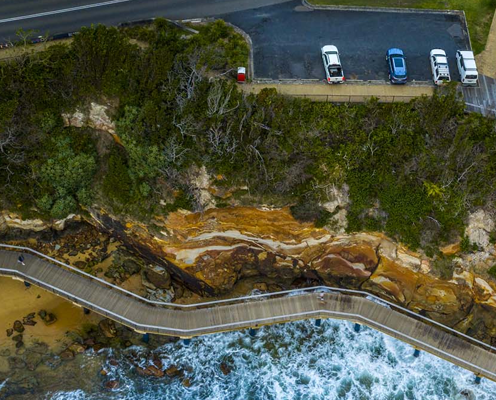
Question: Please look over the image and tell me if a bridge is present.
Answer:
No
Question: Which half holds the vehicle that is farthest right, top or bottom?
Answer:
top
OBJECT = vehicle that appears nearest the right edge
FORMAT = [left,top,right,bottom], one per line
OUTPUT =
[455,46,481,81]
